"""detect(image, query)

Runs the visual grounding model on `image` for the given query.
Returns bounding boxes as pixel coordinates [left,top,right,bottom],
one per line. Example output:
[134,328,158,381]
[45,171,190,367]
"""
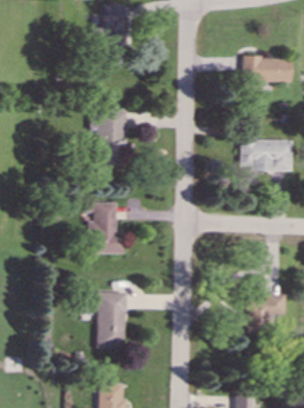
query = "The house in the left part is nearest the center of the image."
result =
[88,202,126,255]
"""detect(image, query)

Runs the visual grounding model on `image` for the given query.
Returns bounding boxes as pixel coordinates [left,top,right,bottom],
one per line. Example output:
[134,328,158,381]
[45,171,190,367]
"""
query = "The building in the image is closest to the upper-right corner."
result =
[243,54,294,82]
